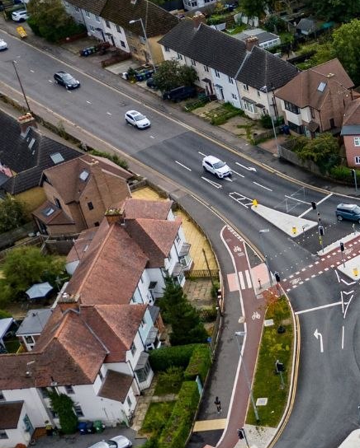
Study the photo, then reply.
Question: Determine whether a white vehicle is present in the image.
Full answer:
Yes, the frame does contain a white vehicle.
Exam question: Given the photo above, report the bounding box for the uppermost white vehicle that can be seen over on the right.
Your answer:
[199,153,233,178]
